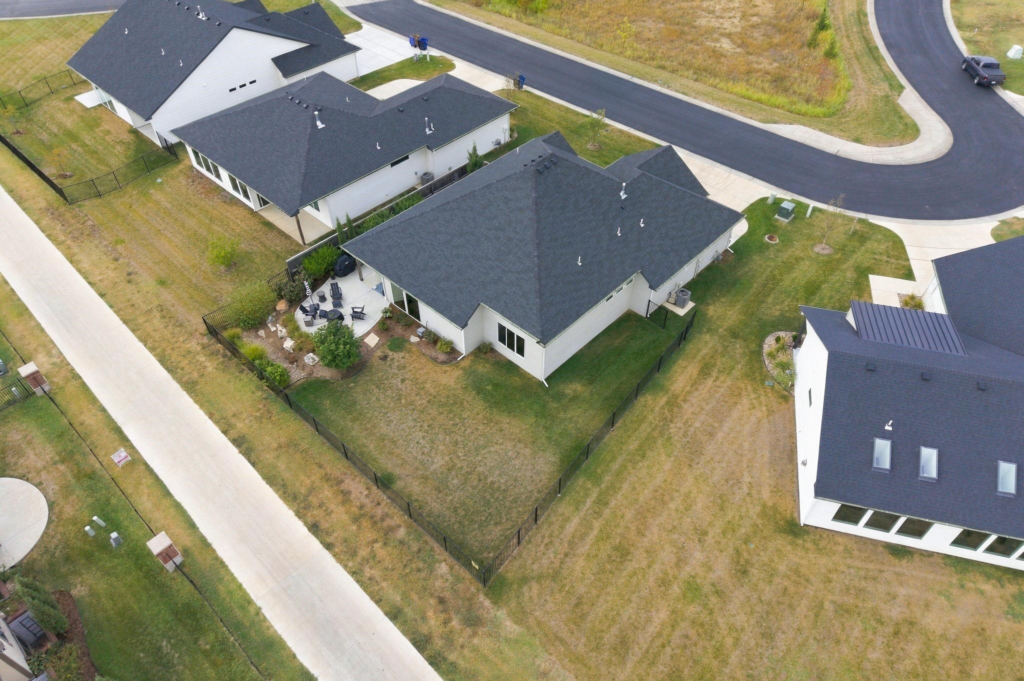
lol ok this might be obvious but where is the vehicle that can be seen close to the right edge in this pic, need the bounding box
[962,55,1006,85]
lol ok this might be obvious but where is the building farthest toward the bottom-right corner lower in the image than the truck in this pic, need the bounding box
[794,245,1024,567]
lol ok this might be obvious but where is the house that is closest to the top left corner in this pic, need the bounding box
[59,0,359,148]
